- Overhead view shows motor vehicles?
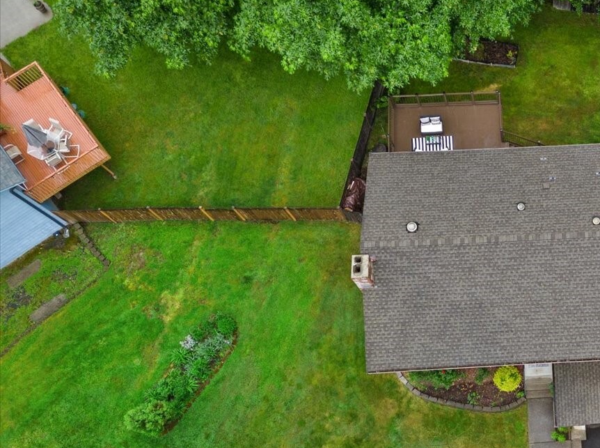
No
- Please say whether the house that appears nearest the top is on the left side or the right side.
left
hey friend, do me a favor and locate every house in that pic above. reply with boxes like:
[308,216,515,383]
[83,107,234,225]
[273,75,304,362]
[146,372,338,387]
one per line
[351,141,600,427]
[0,140,67,269]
